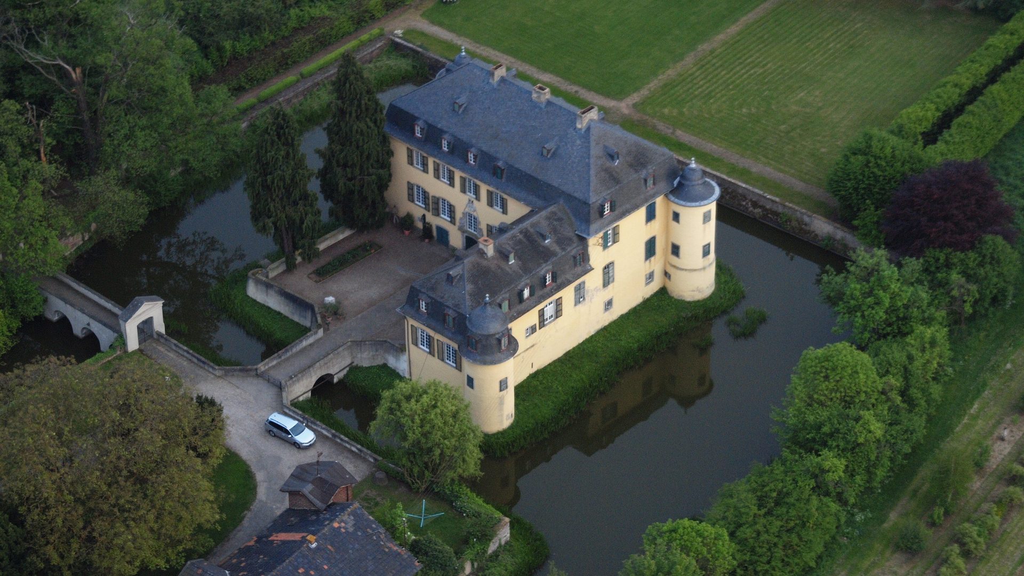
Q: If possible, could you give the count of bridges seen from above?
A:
2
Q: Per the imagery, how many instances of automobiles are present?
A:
1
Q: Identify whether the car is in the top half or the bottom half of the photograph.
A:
bottom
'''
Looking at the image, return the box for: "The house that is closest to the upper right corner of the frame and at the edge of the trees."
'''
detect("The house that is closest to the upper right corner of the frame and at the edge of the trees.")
[384,47,721,433]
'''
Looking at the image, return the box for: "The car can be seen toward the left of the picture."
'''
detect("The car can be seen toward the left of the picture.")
[262,410,317,449]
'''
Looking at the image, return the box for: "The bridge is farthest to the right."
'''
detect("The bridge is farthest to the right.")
[255,330,410,402]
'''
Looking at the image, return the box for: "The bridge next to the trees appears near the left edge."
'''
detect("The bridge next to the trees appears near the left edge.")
[27,258,145,363]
